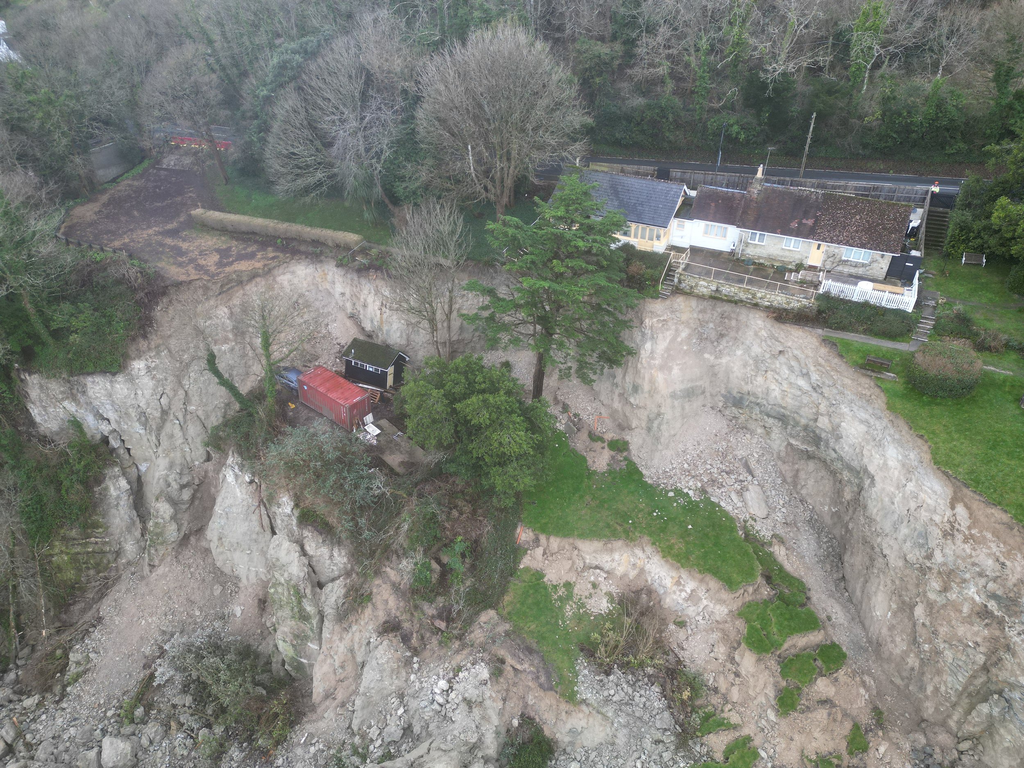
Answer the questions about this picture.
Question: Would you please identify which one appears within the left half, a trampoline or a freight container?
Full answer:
Visible within the left half is a freight container.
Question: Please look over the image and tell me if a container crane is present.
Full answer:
No, the photo shows no container crane.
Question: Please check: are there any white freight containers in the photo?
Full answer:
No, I find no white freight container anywhere in the image.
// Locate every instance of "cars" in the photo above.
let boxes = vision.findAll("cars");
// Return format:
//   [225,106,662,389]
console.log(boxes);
[281,373,299,393]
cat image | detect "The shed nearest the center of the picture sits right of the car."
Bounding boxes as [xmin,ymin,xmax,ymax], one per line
[338,341,406,390]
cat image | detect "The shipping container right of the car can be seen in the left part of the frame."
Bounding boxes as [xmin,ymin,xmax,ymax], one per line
[295,365,368,429]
